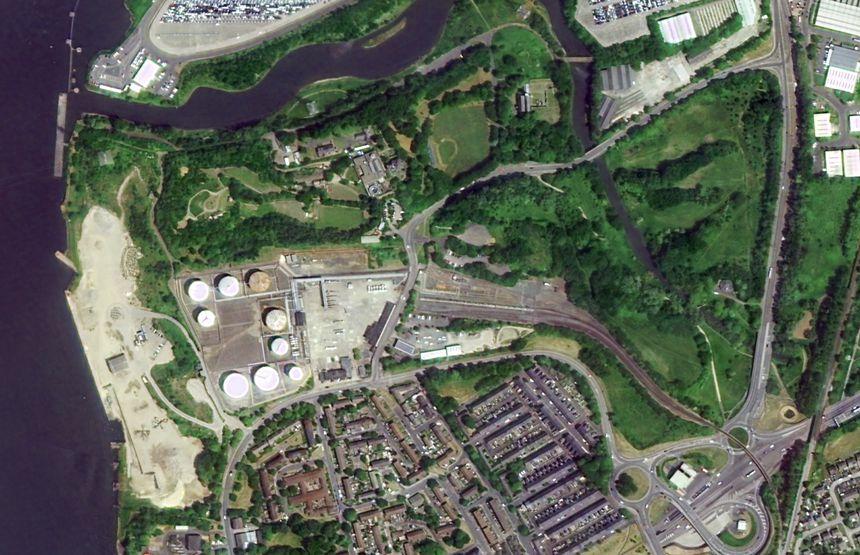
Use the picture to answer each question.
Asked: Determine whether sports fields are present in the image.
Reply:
Yes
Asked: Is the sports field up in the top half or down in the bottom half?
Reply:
top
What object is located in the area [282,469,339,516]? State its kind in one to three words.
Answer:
building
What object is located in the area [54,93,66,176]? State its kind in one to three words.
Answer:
pier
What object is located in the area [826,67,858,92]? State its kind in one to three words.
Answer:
building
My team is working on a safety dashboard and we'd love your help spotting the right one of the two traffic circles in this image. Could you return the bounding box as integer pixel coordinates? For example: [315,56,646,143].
[722,421,755,453]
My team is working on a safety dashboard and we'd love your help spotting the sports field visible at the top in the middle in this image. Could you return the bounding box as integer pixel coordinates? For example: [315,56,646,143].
[430,103,489,172]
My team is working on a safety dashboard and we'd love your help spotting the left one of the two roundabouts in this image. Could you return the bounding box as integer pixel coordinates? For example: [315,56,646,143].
[609,460,655,507]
